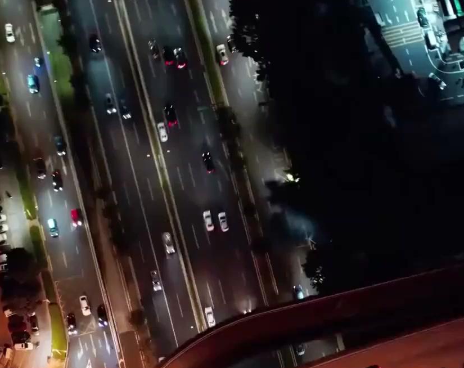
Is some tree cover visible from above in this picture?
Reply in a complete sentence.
Yes, tree cover shows up in the scene.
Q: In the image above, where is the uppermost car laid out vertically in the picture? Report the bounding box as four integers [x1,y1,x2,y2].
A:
[415,5,428,30]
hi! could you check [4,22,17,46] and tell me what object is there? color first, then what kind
white vehicle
